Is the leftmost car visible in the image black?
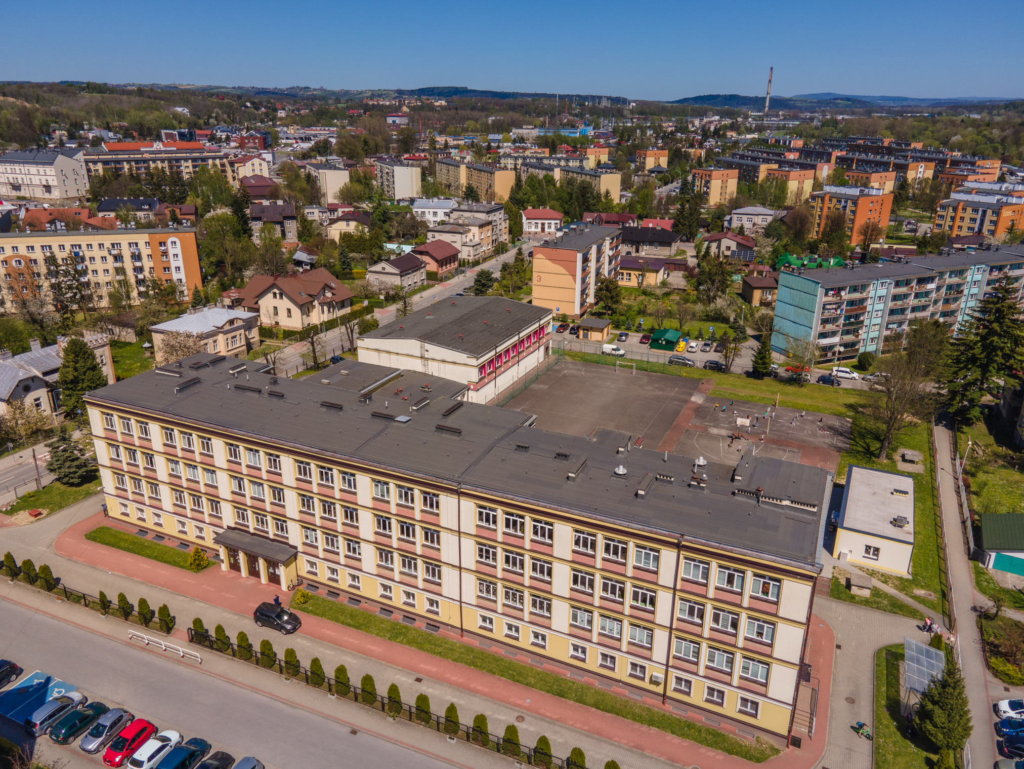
Yes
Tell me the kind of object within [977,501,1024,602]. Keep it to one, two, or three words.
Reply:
building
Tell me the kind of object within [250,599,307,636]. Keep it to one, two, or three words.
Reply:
car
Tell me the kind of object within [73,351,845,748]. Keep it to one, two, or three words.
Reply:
building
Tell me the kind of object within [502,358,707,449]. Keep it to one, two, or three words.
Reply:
sports court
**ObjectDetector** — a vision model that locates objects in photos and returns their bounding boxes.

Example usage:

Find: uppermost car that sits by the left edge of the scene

[0,658,22,687]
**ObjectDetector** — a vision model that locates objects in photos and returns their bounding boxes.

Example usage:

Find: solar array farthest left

[724,246,767,265]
